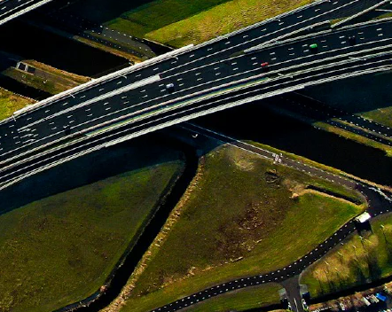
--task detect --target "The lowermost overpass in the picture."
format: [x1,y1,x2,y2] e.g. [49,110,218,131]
[8,42,313,174]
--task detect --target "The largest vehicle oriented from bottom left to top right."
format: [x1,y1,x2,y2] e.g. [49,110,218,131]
[354,212,370,226]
